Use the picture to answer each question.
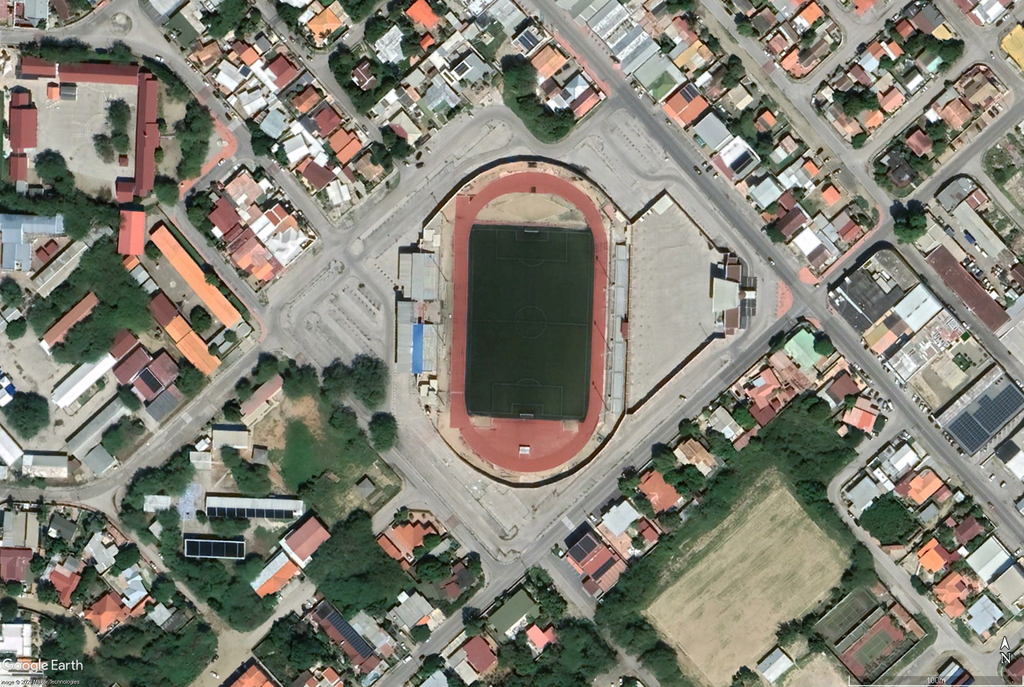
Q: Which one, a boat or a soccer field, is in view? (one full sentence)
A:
Visible in the photo is a soccer field.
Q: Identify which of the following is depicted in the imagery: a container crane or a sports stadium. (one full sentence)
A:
Of the two, only a sports stadium appears.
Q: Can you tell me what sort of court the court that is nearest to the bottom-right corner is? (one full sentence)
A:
The court that is nearest to the bottom-right corner is a tennis court.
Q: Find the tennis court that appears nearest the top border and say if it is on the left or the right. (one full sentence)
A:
It is on the right.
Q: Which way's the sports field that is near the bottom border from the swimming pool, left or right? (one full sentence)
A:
Relative to the swimming pool, the sports field that is near the bottom border lies to the right.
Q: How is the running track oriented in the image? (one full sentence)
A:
Seen from above, the running track lies vertically.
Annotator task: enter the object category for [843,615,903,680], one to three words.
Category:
tennis court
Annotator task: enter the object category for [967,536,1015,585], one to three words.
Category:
building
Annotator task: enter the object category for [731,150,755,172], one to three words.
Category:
solar panel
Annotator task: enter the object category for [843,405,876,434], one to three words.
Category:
house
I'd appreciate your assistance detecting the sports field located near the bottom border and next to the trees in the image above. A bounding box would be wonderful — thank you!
[644,483,852,687]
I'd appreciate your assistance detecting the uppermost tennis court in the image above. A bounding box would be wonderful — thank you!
[817,589,879,644]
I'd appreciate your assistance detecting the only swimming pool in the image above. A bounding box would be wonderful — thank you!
[362,662,389,687]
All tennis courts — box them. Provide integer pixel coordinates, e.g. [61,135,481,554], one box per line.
[843,615,903,680]
[817,589,879,644]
